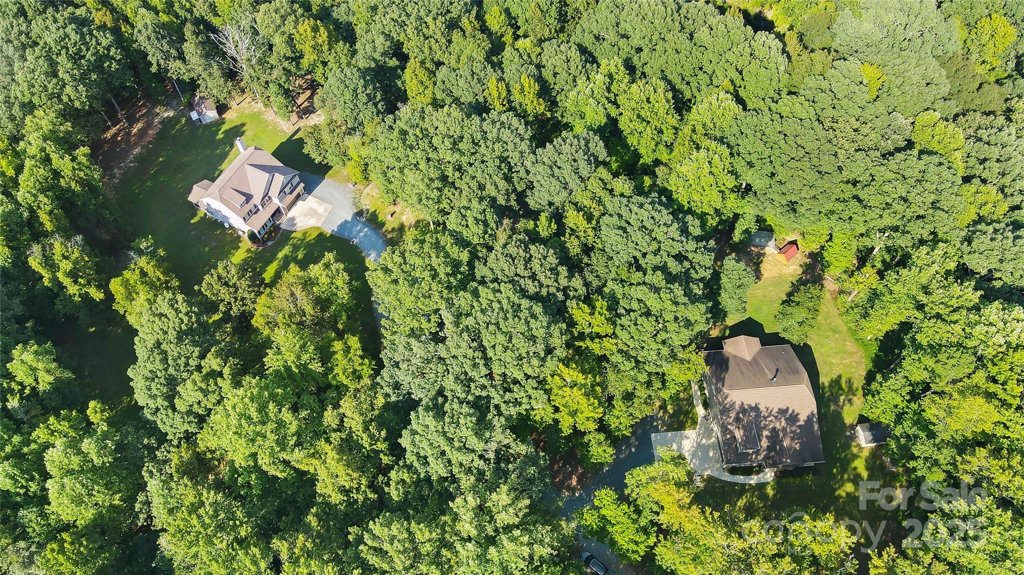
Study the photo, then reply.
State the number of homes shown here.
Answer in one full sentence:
There are 2 homes in the image.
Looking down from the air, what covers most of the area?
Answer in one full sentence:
What you mostly see from above here is trees.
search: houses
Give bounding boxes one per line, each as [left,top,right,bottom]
[701,334,824,474]
[187,135,305,239]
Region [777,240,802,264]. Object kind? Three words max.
shed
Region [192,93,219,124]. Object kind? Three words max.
shed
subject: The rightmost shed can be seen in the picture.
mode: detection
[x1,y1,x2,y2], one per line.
[855,422,891,447]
